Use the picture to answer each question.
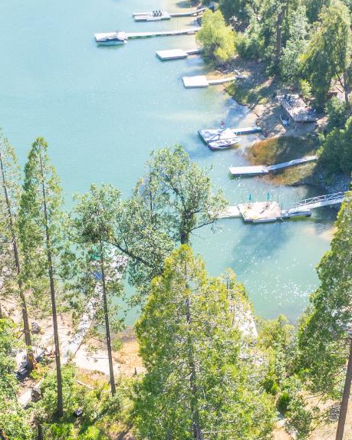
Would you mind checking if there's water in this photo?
Yes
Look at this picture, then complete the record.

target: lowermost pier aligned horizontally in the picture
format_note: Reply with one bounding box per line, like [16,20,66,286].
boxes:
[205,184,352,223]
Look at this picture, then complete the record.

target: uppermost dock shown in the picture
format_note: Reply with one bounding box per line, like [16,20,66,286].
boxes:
[133,8,207,22]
